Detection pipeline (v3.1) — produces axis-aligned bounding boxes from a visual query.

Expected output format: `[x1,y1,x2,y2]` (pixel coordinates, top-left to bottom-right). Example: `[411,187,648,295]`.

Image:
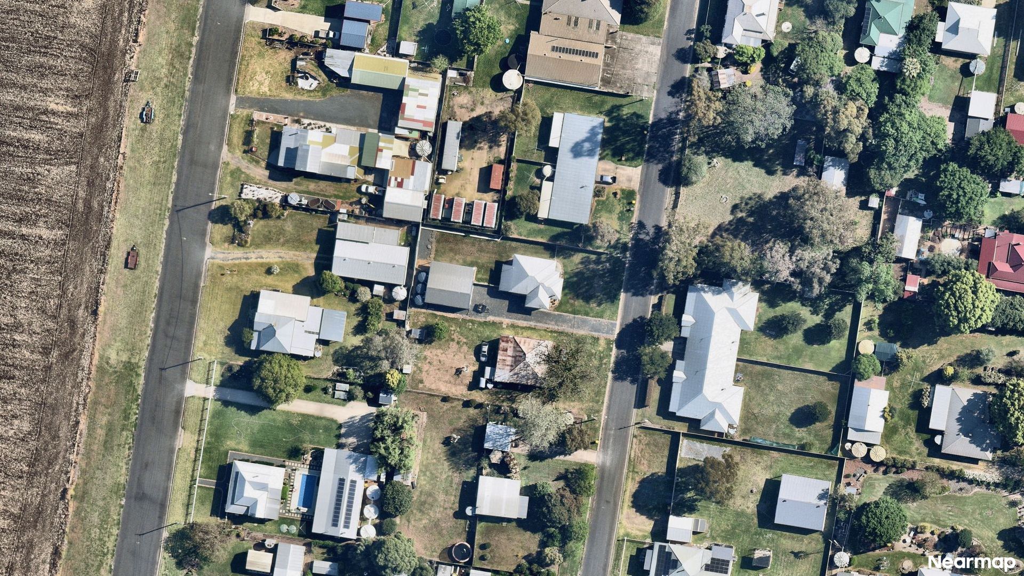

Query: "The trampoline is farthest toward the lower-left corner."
[452,543,471,562]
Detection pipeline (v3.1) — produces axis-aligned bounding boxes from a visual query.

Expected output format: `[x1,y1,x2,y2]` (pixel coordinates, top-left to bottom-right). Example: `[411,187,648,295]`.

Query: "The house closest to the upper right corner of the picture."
[940,2,998,55]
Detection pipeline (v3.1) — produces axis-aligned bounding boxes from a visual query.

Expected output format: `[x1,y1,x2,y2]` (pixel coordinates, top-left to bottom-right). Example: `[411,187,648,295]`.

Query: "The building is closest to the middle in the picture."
[499,253,564,310]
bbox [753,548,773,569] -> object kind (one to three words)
building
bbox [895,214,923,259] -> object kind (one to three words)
shed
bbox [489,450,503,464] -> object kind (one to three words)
gazebo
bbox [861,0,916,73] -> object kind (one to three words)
house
